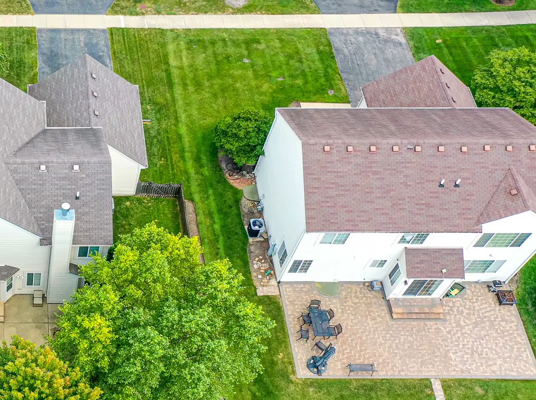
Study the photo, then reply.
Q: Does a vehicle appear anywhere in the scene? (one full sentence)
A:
No, the frame has no vehicle in it.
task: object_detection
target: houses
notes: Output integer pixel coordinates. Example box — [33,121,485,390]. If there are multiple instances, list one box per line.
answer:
[255,56,536,318]
[0,54,152,322]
